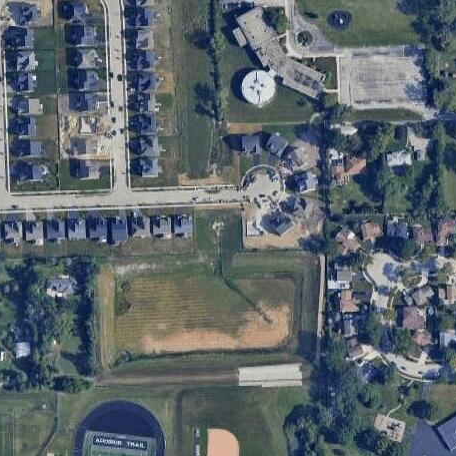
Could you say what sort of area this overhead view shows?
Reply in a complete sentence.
The area seen from above is a residential area.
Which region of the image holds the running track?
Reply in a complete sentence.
Look in the bottom left portion of the view to spot the running track.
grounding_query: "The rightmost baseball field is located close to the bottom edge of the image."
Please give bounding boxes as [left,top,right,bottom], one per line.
[198,417,257,456]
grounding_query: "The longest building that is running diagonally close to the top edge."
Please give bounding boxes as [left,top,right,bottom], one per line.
[233,7,325,98]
